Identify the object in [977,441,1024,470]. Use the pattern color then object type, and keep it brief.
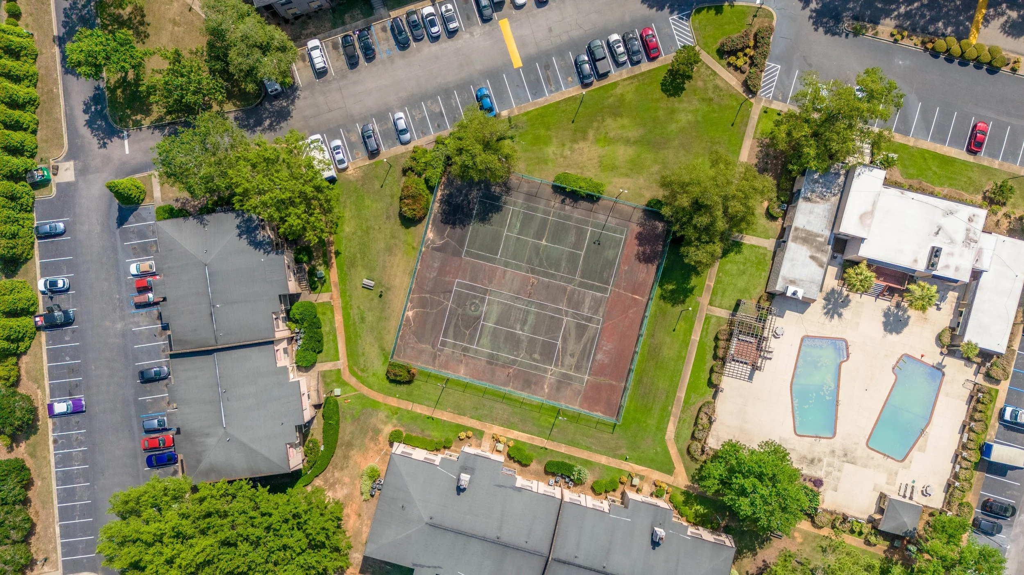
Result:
white truck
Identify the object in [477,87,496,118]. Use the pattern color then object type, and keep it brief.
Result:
blue car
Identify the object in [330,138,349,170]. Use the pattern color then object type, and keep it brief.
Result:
white car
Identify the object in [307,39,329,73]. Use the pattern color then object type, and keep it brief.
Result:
white car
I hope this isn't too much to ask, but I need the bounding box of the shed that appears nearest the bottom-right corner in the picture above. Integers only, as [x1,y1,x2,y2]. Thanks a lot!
[863,492,922,539]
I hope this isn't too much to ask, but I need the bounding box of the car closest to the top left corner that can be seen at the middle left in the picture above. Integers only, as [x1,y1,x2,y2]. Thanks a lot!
[36,222,69,237]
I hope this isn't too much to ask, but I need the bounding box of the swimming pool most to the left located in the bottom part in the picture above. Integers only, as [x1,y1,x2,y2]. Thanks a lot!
[791,336,849,441]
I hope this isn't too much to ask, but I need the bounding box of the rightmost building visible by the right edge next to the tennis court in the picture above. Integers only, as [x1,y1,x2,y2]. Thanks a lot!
[766,164,1024,354]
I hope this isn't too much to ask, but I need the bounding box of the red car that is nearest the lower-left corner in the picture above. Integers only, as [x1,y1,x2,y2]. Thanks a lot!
[142,434,175,450]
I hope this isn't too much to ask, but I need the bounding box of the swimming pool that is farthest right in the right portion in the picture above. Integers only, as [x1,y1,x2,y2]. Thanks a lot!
[867,354,946,463]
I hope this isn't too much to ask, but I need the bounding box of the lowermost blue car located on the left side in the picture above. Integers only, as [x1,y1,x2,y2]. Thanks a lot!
[149,452,178,468]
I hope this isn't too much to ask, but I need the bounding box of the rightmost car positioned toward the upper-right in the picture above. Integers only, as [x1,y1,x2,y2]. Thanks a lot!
[966,121,987,153]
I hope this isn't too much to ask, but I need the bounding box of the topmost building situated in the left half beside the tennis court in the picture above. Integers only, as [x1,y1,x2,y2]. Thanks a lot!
[153,214,320,484]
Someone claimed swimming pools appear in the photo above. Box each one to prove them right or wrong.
[791,336,849,441]
[867,354,946,463]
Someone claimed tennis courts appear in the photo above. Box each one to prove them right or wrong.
[395,162,668,418]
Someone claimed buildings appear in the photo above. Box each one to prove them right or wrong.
[863,492,922,539]
[153,214,320,484]
[364,442,737,575]
[766,164,1024,354]
[271,0,333,19]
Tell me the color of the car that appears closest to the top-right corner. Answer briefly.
red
